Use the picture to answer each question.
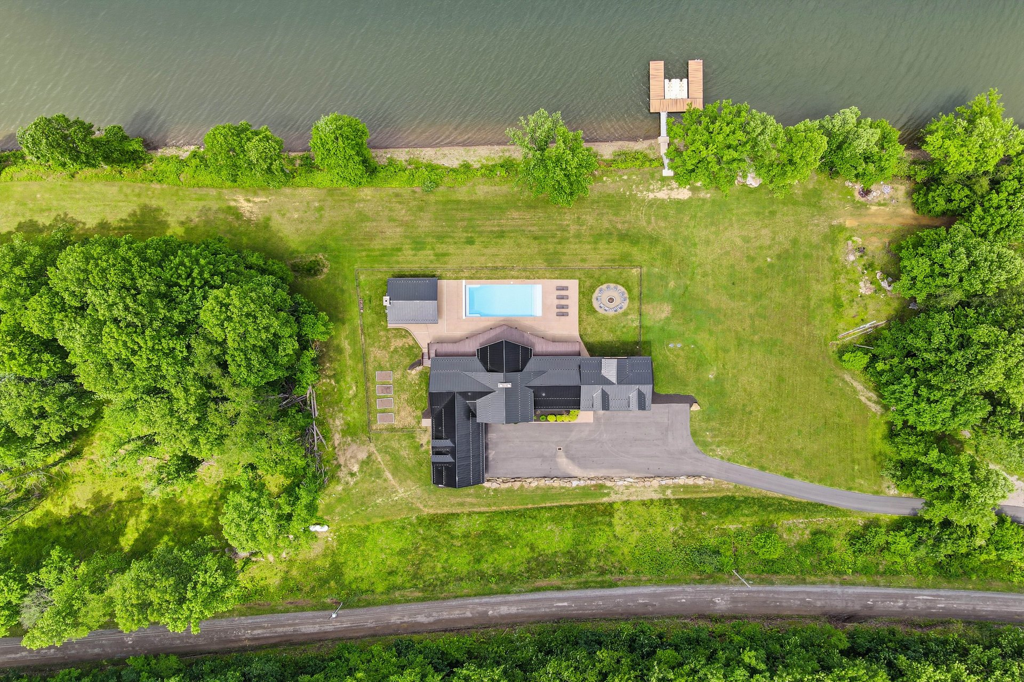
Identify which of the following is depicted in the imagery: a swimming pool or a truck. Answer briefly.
swimming pool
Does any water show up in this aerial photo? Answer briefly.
Yes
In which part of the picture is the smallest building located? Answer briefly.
center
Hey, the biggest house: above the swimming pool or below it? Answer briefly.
below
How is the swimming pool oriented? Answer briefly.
from side to side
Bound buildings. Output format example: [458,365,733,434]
[383,278,438,324]
[429,339,653,490]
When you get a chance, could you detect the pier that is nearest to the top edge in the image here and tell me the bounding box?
[649,57,703,113]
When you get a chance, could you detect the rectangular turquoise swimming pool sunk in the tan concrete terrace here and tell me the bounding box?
[462,280,542,319]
